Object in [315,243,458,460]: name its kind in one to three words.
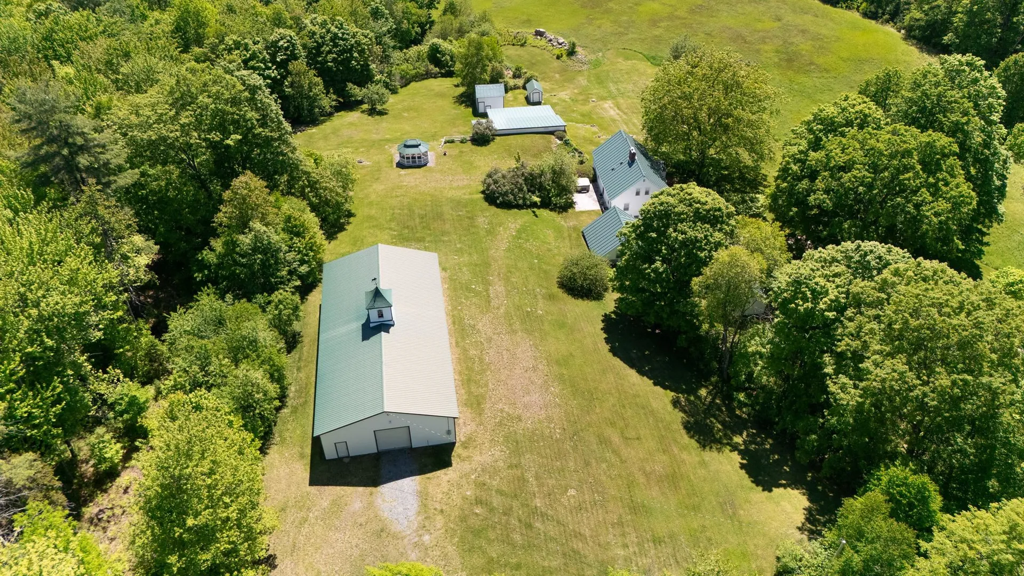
barn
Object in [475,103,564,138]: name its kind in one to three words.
shed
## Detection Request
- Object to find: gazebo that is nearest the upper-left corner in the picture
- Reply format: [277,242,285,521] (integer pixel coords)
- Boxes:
[394,136,432,166]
